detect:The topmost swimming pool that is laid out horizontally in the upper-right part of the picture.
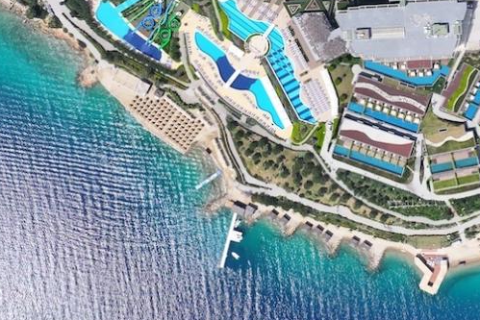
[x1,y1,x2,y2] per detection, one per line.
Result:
[364,60,450,87]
